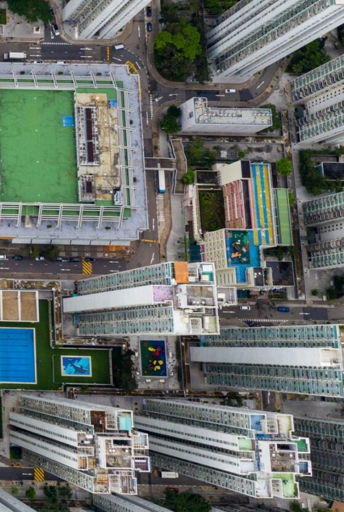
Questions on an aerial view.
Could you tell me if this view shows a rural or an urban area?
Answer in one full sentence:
The area shown here is urban.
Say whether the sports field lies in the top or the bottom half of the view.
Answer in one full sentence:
You can find the sports field in the top half.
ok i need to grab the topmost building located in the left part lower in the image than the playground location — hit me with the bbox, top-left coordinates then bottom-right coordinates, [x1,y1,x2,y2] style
[12,396,150,495]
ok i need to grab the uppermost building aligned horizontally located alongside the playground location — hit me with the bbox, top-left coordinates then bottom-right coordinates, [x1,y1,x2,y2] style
[71,262,237,337]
